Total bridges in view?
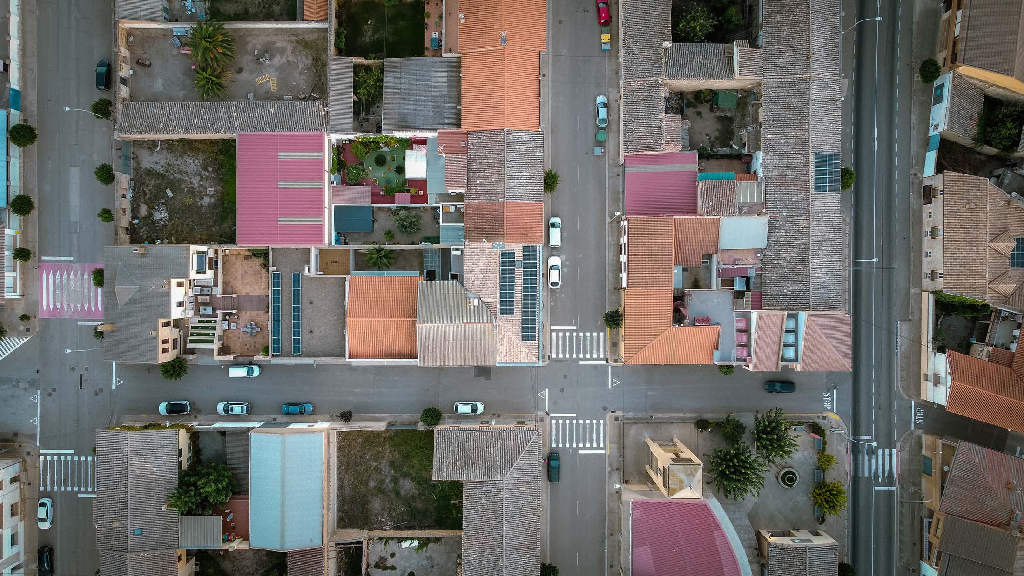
0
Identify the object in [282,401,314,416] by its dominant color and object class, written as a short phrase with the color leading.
blue car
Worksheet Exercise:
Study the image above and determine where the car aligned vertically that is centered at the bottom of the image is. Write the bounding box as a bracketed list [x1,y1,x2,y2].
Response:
[546,452,561,482]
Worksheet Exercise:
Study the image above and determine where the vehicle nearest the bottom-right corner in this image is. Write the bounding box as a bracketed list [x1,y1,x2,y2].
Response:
[763,379,795,394]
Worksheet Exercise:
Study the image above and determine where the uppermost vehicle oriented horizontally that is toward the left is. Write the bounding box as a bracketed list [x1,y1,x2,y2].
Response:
[227,364,262,378]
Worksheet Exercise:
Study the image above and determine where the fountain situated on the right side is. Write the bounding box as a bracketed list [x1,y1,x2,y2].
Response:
[777,467,800,489]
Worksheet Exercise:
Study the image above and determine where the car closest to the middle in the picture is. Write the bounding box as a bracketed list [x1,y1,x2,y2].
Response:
[546,257,562,289]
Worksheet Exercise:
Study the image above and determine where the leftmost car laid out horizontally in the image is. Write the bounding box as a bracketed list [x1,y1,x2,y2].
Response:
[160,400,192,415]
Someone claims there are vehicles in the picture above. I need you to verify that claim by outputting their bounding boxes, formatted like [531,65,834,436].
[160,400,192,415]
[547,216,562,247]
[282,401,314,416]
[37,545,56,576]
[218,401,252,416]
[454,401,484,416]
[227,364,262,378]
[763,379,795,394]
[546,257,562,289]
[95,61,113,91]
[594,96,609,127]
[546,452,561,482]
[595,0,611,27]
[37,496,56,528]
